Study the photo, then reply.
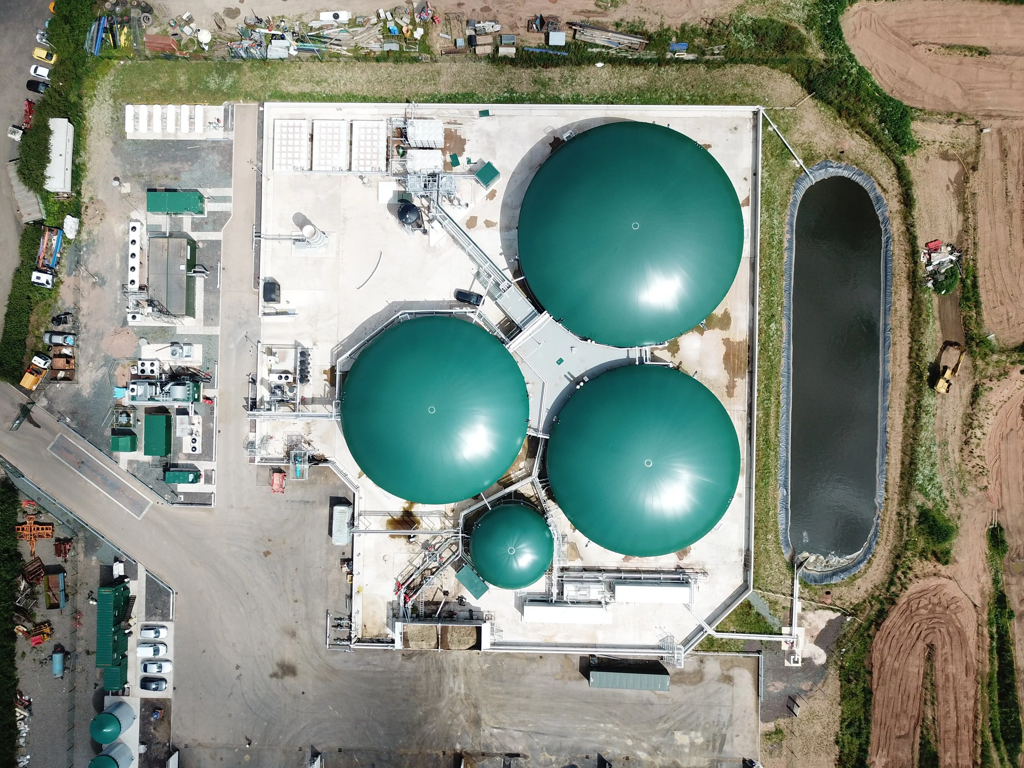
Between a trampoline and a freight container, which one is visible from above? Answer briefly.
freight container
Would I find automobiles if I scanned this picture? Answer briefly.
Yes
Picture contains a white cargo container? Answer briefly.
Yes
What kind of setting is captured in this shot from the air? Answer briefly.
industrial area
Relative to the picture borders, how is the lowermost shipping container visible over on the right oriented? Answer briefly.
horizontally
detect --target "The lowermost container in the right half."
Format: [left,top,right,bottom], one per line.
[587,664,670,691]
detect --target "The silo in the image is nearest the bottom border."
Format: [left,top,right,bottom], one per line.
[84,740,136,768]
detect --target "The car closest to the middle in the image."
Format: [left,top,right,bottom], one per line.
[454,288,485,306]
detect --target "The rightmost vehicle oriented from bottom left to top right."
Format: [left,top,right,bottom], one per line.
[930,346,966,393]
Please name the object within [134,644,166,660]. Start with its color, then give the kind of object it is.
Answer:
white car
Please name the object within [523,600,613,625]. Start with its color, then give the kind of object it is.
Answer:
white shipping container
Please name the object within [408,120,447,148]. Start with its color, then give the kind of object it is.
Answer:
white water tank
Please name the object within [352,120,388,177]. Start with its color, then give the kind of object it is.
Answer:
white storage tank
